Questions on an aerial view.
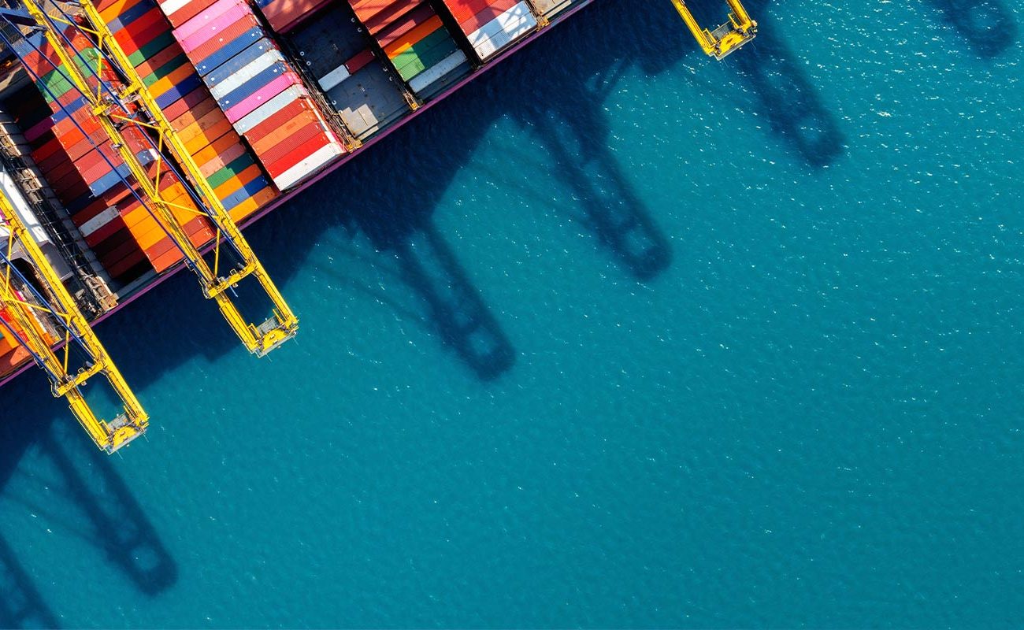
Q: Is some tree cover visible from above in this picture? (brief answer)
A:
No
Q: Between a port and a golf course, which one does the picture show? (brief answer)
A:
port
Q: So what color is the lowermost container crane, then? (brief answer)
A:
yellow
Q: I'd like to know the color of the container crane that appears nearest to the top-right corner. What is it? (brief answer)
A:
yellow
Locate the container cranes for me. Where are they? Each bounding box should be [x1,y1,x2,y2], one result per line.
[0,188,151,461]
[657,0,757,62]
[0,0,300,363]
